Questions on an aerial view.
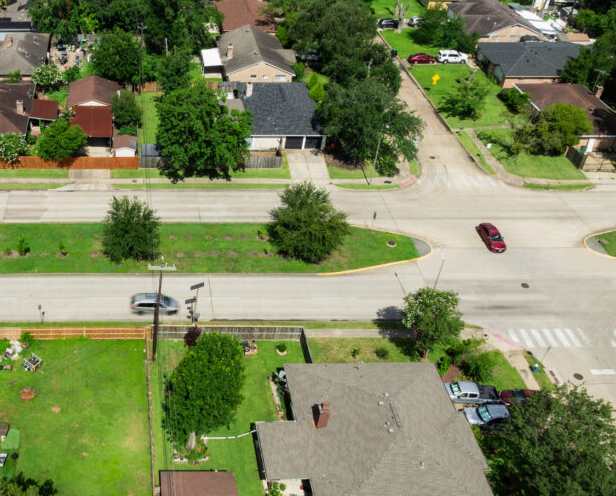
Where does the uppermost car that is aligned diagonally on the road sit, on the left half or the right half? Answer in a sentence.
It is on the right.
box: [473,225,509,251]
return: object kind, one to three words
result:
car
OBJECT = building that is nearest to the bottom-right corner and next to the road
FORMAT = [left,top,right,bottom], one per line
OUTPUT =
[256,362,481,496]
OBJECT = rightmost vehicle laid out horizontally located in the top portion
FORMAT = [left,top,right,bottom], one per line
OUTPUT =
[438,50,466,62]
